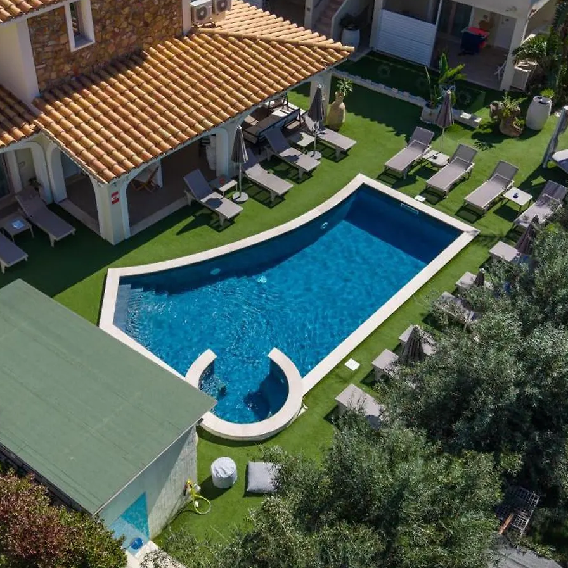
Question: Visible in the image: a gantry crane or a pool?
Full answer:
Visible in the photo is a pool.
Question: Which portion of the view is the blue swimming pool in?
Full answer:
You can find the blue swimming pool in the center area of the picture.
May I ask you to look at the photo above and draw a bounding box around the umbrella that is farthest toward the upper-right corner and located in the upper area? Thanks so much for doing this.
[434,91,457,156]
